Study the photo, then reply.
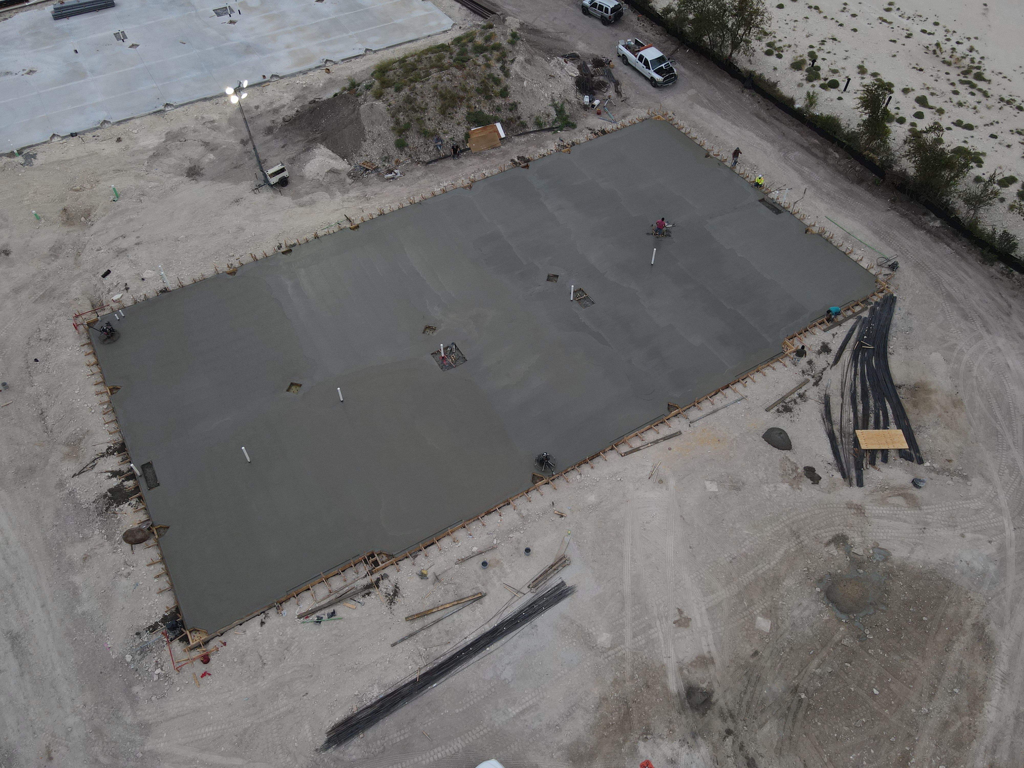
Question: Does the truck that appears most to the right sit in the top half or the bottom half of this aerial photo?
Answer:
top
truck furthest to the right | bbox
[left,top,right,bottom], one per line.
[616,39,680,88]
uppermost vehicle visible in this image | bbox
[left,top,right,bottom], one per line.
[580,0,625,26]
